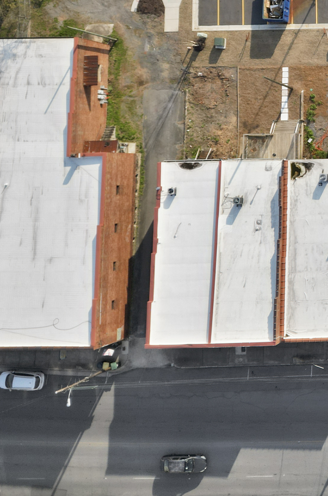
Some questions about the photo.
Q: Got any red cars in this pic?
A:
No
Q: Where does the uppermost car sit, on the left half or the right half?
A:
left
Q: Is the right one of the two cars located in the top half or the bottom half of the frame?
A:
bottom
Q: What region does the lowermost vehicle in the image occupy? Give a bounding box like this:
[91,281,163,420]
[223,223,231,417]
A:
[161,451,209,475]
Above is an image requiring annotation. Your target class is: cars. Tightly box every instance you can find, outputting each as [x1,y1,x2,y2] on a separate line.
[0,369,47,391]
[161,451,209,475]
